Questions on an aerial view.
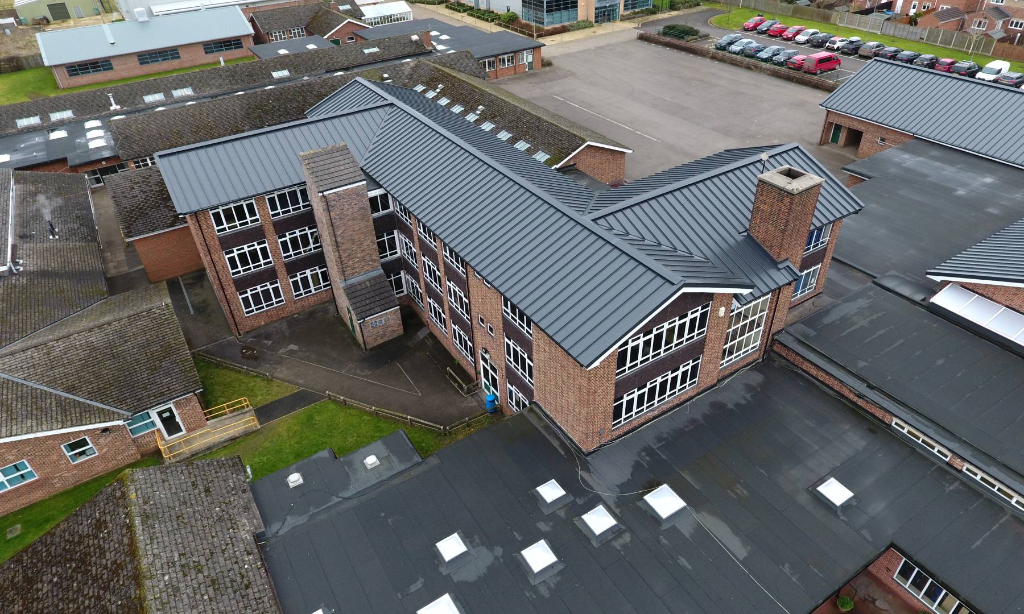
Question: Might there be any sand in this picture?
No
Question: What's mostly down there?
buildings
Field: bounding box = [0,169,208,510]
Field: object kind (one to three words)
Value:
building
